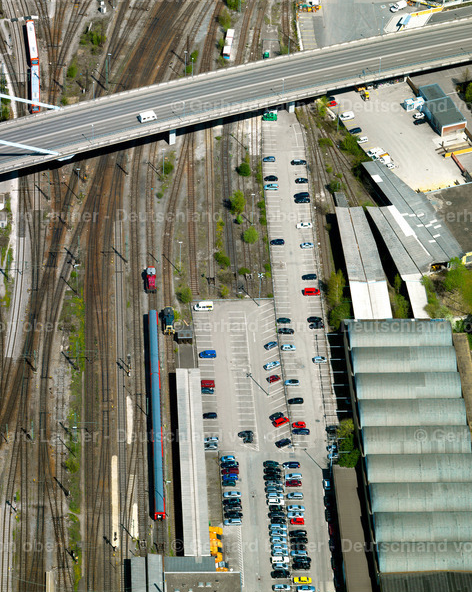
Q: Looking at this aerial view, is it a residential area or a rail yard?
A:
rail yard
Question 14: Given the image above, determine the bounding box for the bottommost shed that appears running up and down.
[331,465,375,592]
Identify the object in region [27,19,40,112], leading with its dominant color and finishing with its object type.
white train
